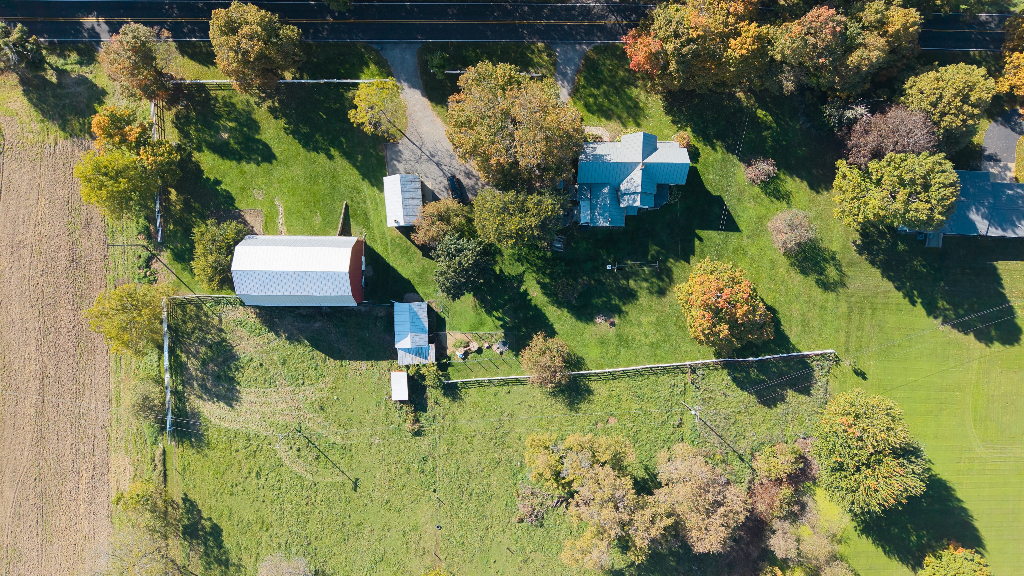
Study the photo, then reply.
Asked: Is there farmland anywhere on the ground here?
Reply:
Yes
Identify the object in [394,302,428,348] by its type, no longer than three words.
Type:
shed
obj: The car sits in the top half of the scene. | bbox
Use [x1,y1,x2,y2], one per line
[447,174,462,201]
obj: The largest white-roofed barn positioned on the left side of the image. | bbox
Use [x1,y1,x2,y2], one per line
[230,236,366,308]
